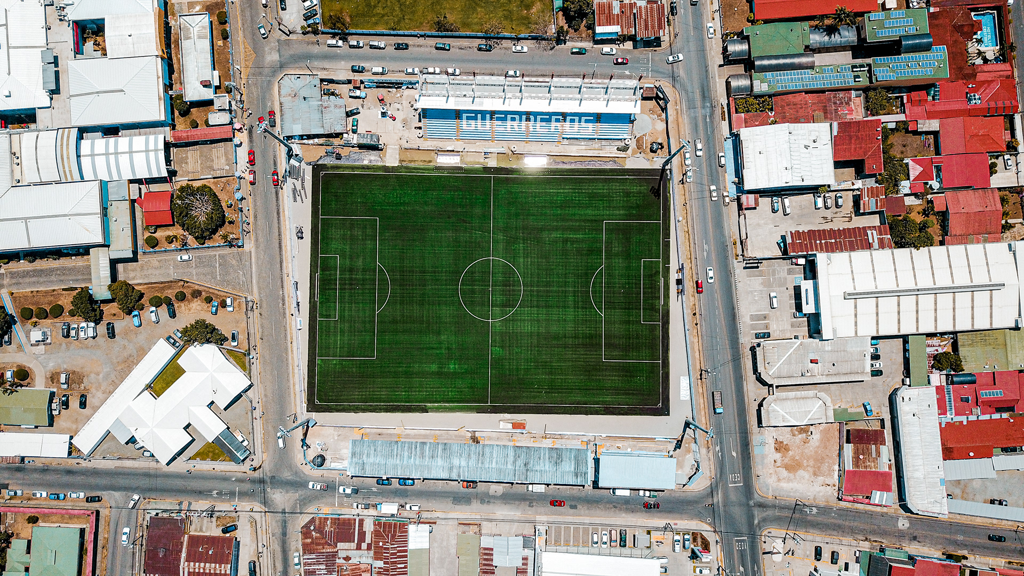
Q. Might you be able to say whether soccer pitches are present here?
Yes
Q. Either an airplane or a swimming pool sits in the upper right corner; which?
swimming pool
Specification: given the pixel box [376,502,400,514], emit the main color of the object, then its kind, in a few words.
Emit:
white vehicle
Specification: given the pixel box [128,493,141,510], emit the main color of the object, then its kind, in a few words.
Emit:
white vehicle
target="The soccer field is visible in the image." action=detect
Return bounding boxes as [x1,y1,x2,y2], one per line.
[307,164,670,416]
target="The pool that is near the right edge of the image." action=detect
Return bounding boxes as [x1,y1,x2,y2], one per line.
[971,11,996,50]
